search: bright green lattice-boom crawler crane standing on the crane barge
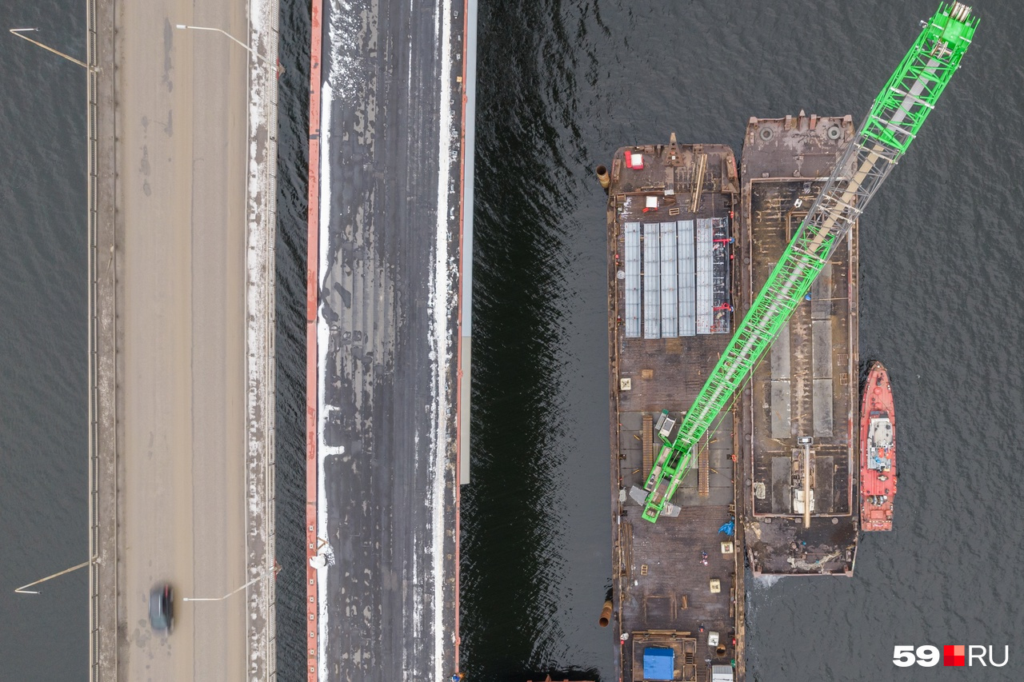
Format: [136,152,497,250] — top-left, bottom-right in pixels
[629,0,981,523]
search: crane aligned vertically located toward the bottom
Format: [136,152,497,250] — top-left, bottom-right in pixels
[792,437,815,527]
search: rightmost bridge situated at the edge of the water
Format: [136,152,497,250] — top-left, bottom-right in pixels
[307,0,480,682]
